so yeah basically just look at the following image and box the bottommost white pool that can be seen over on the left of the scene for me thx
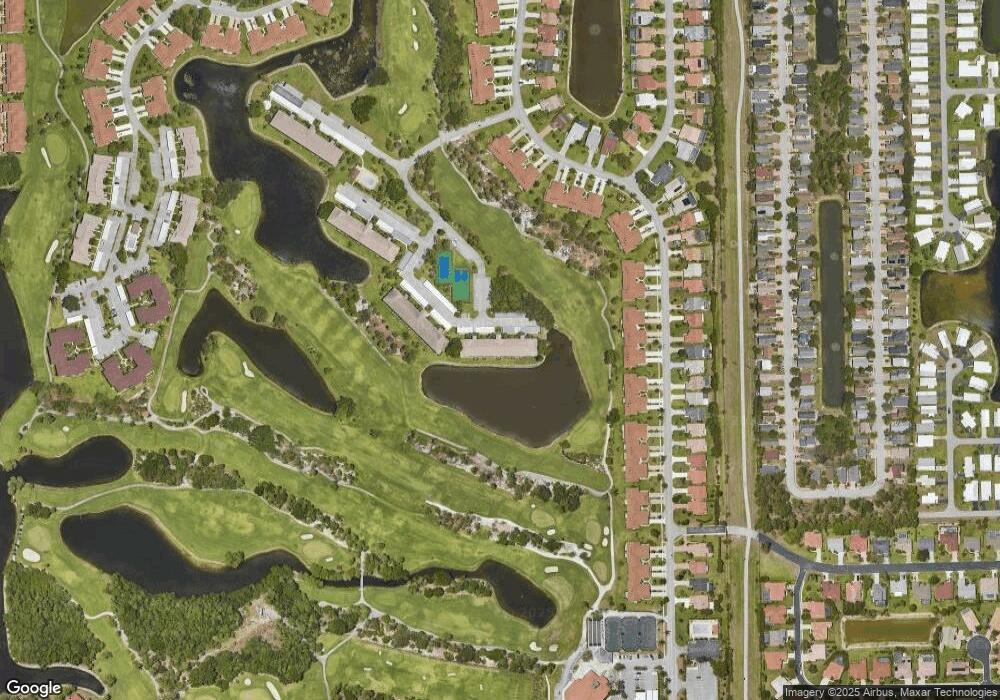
[124,222,143,252]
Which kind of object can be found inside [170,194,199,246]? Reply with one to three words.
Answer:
building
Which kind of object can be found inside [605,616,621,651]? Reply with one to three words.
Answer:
tennis court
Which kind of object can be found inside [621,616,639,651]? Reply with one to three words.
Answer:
tennis court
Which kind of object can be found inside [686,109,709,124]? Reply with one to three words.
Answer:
house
